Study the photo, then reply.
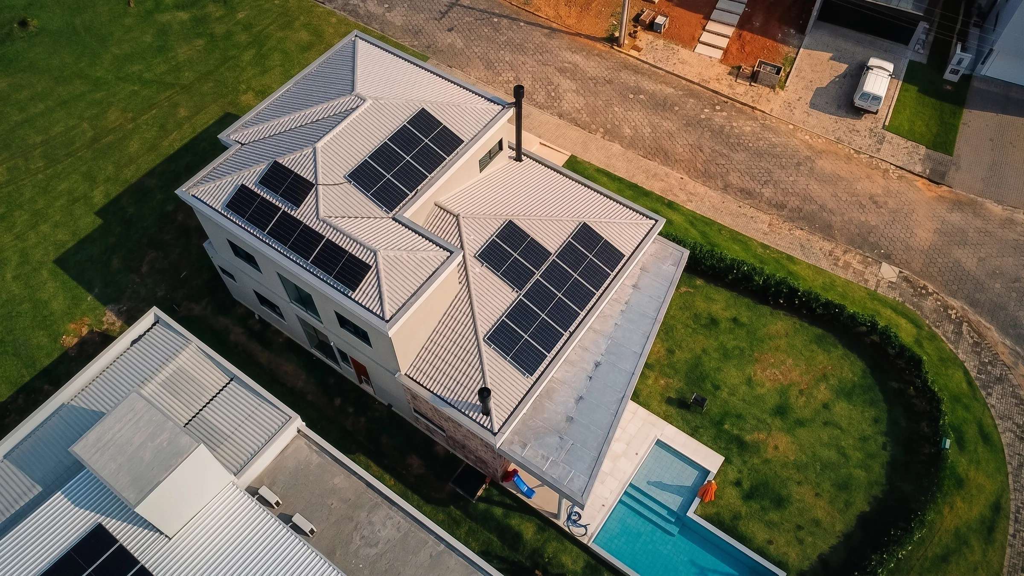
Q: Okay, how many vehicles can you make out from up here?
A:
one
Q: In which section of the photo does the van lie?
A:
top right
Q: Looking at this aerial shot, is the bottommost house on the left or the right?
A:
left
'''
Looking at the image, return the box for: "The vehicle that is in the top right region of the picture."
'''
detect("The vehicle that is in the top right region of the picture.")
[850,59,900,118]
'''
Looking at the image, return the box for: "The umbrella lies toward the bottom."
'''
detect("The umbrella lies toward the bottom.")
[695,476,720,504]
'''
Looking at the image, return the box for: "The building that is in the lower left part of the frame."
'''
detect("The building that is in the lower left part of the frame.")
[0,305,507,576]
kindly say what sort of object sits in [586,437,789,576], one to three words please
swimming pool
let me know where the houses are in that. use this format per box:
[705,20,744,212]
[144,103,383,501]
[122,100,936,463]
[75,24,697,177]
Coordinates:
[174,29,690,522]
[974,0,1024,87]
[0,305,507,576]
[801,0,943,48]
